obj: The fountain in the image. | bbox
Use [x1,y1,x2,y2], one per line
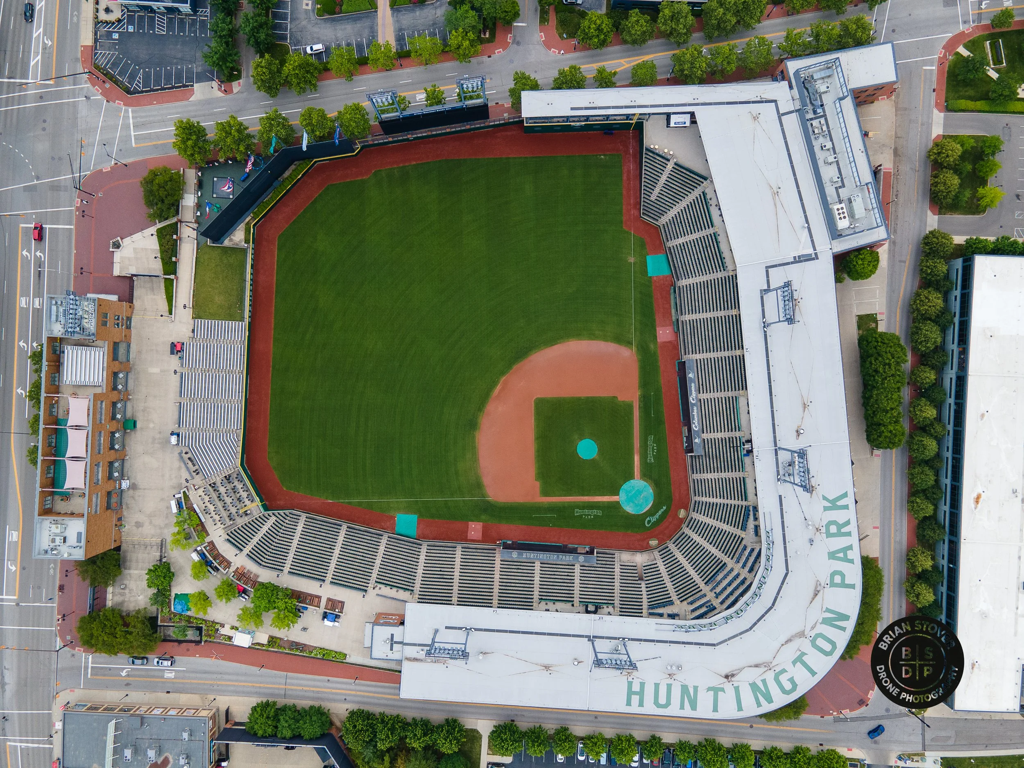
[108,235,126,252]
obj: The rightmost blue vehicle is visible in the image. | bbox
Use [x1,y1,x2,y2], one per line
[866,723,885,739]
